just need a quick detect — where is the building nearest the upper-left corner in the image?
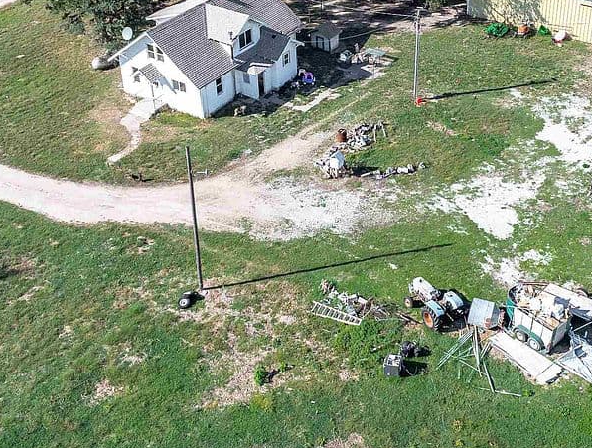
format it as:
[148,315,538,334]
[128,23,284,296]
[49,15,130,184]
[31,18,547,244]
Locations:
[108,0,304,117]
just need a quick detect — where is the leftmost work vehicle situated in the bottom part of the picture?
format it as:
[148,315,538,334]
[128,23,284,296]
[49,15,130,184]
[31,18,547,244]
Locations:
[410,276,474,335]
